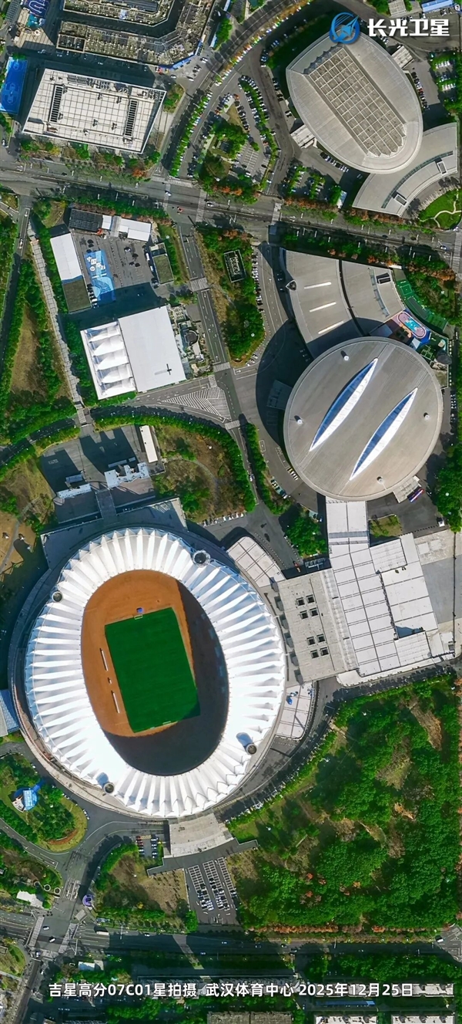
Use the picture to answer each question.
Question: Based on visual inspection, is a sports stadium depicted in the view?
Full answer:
Yes, I can see a sports stadium in this picture.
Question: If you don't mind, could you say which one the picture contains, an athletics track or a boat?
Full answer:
The image shows an athletics track.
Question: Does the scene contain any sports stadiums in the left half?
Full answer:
Yes, a sports stadium shows up in the left half.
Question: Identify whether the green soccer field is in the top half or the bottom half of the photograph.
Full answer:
You can find the green soccer field in the bottom half.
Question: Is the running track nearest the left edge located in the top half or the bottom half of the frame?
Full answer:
The bottom half of the photo is where the running track nearest the left edge is.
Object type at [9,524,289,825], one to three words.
stadium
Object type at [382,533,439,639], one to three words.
building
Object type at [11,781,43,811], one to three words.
building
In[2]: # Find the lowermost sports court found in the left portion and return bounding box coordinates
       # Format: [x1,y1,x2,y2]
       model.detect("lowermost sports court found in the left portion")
[84,251,115,305]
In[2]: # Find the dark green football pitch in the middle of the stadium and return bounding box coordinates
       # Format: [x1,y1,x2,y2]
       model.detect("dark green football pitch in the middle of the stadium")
[105,607,200,733]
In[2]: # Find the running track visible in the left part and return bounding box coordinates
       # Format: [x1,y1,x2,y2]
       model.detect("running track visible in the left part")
[82,572,226,774]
